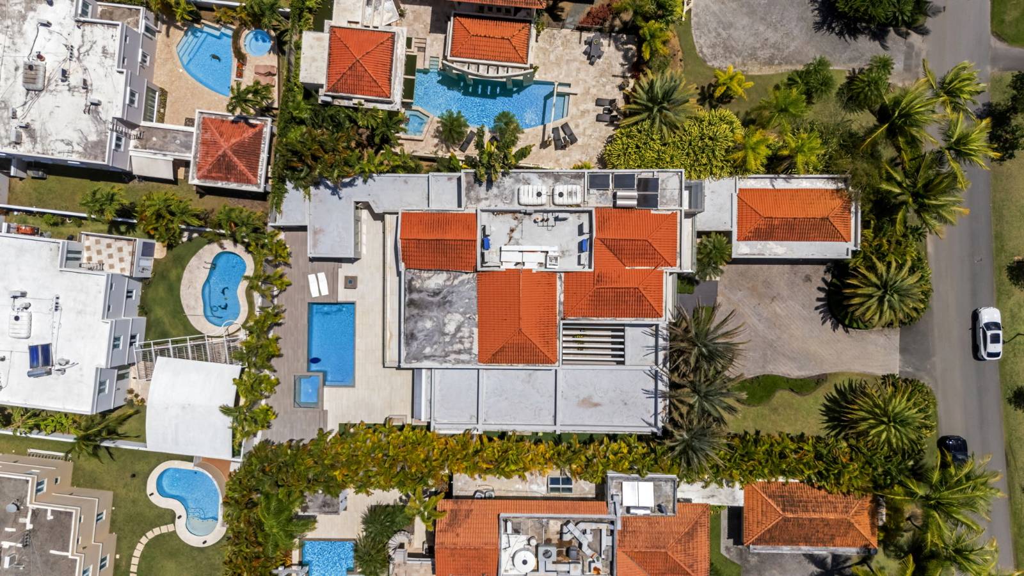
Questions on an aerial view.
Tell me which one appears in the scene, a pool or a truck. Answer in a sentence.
Of the two, only a pool appears.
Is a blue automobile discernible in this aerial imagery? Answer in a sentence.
No, no blue automobile is visible in the view.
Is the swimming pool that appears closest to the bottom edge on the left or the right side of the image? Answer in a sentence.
The swimming pool that appears closest to the bottom edge appears in the left half of the scene.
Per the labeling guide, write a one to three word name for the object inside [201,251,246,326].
swimming pool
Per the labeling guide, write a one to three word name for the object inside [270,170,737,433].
house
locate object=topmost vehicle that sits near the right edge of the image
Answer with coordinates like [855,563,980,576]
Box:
[974,306,1004,360]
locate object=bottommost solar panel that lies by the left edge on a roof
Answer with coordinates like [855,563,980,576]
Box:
[29,343,56,369]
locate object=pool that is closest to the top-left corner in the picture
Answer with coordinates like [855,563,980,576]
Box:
[174,23,235,99]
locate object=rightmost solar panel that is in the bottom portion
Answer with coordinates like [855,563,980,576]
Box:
[623,481,654,506]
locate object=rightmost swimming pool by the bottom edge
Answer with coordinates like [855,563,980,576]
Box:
[298,538,357,576]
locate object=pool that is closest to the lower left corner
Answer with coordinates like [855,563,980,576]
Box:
[156,467,219,537]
